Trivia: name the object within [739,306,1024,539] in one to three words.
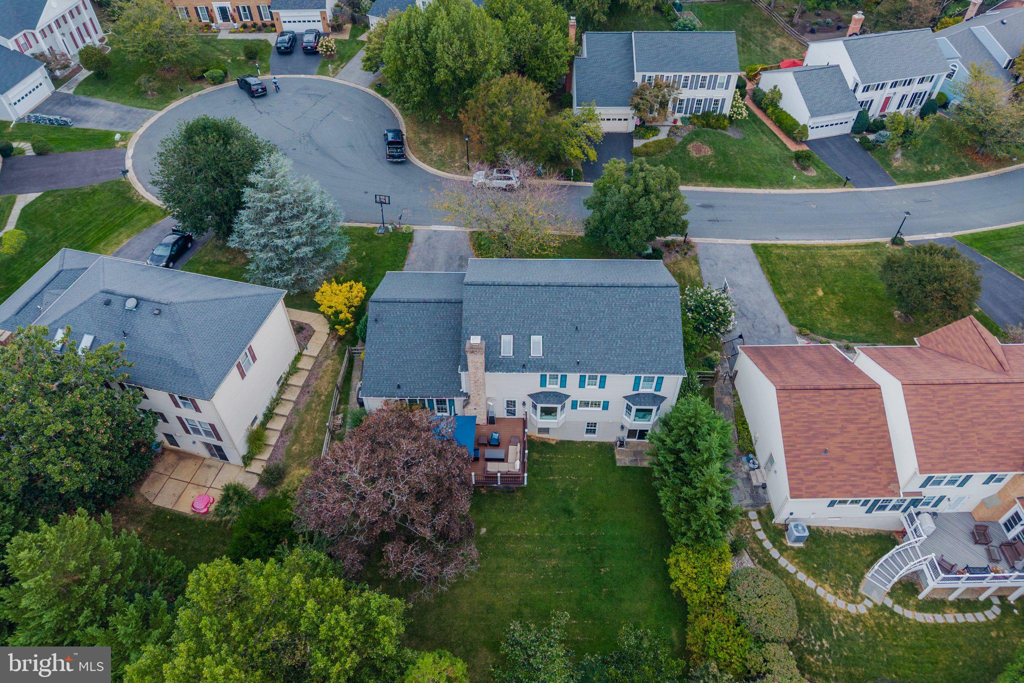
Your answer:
house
